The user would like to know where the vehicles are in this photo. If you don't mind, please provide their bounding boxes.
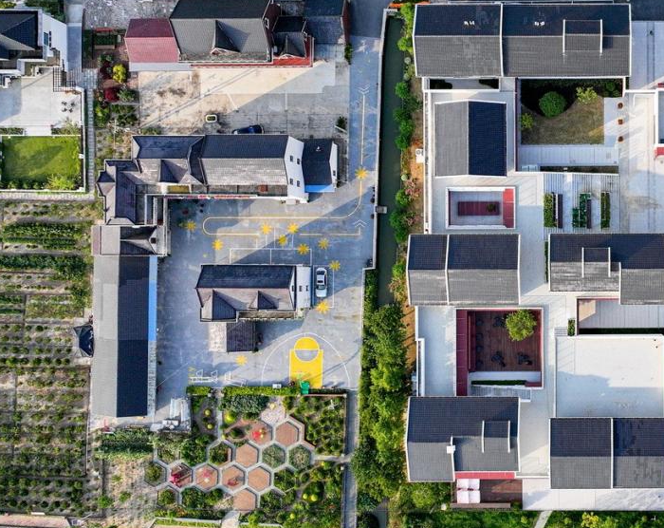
[312,266,328,299]
[231,121,266,135]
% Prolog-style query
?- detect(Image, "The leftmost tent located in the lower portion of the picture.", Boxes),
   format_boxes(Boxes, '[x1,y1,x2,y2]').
[74,324,92,355]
